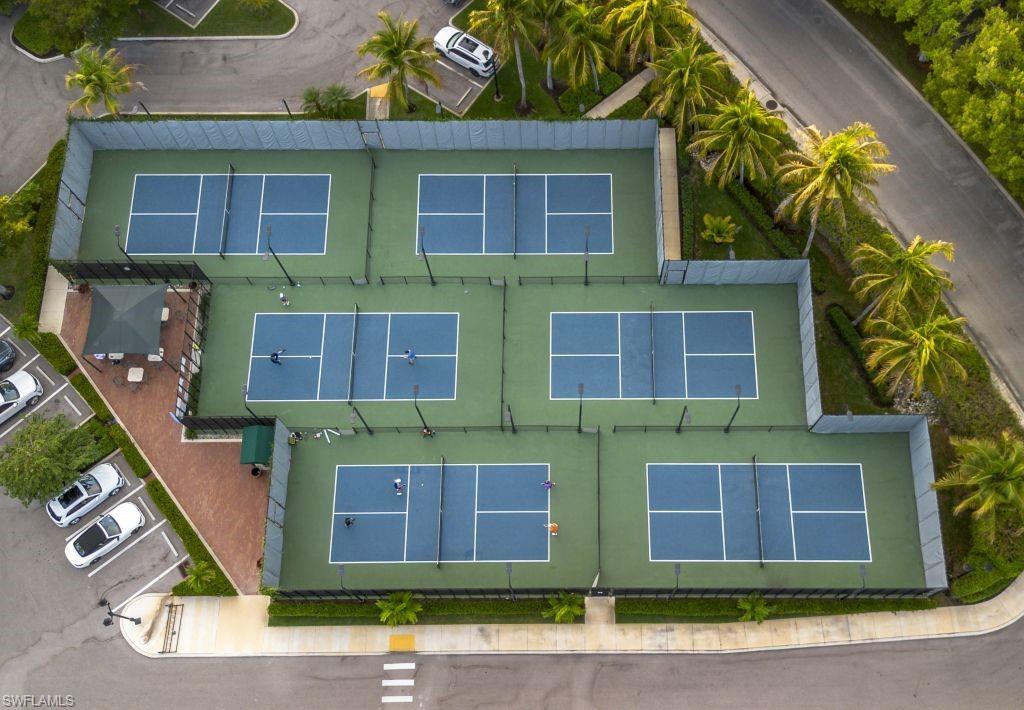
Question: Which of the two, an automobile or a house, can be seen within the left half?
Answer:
automobile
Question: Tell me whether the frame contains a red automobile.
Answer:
No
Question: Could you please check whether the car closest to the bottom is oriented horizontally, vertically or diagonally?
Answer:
diagonally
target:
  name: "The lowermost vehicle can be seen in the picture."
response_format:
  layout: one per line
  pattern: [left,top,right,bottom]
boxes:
[64,504,147,571]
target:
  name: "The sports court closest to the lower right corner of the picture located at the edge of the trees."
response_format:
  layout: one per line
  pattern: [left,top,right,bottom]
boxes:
[599,431,927,598]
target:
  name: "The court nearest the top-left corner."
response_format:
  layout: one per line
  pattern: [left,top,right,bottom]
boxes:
[74,150,371,284]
